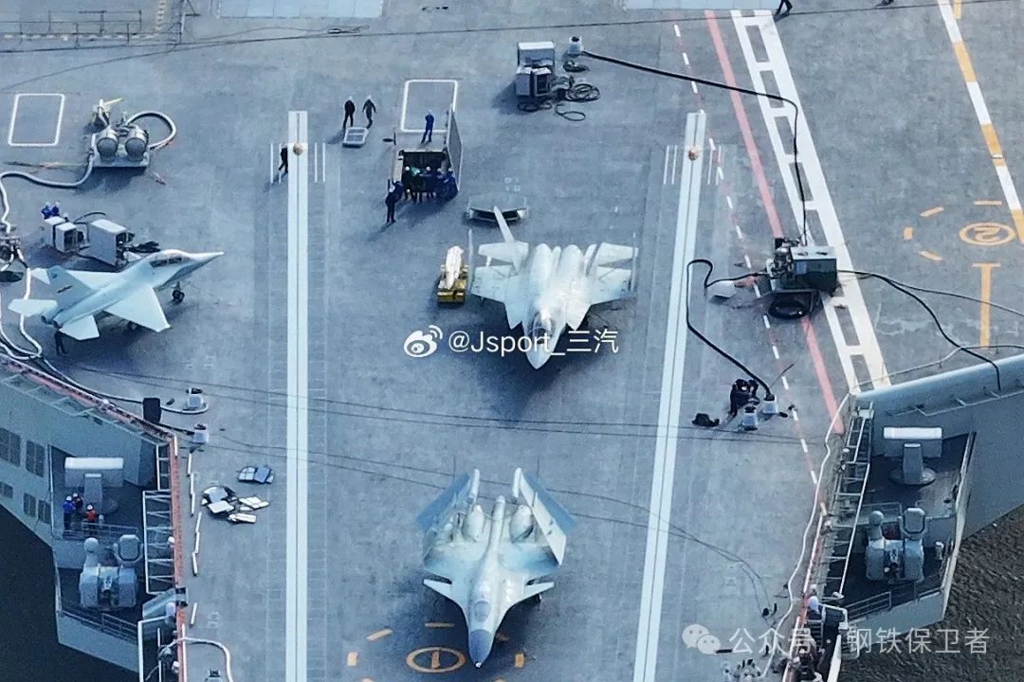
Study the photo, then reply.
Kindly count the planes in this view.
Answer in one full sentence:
I count 3 planes.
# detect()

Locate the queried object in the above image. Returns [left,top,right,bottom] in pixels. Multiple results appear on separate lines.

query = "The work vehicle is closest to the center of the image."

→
[466,193,527,219]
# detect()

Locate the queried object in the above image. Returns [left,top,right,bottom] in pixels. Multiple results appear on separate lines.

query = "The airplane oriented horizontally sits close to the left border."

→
[5,254,223,341]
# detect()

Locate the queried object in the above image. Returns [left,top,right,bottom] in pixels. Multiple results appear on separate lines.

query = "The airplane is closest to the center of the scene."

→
[466,204,637,369]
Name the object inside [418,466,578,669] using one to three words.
airplane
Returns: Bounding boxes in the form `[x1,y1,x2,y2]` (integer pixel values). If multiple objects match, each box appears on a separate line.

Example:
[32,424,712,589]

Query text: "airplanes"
[5,254,223,341]
[418,466,578,669]
[466,204,637,369]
